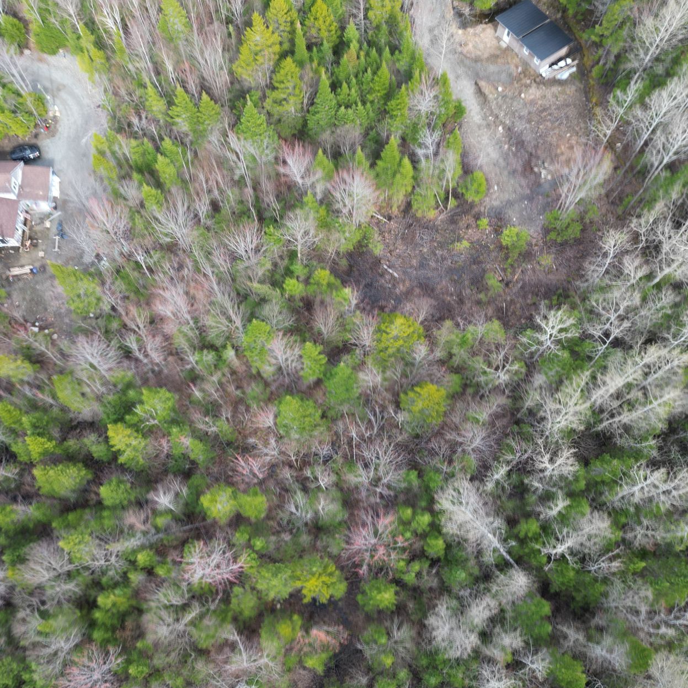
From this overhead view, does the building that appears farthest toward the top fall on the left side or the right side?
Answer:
right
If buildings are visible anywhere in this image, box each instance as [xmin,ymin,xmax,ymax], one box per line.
[495,0,574,74]
[0,162,55,247]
